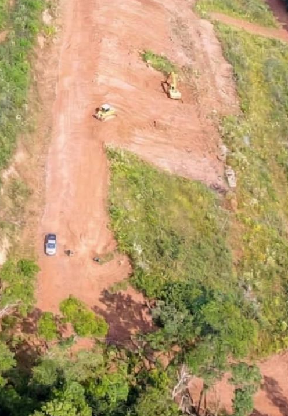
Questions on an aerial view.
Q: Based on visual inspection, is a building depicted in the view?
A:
No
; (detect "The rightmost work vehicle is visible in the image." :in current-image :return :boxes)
[164,68,184,103]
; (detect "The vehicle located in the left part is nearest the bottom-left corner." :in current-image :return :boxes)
[45,235,57,256]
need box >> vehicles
[45,235,57,256]
[89,102,117,124]
[164,68,184,103]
